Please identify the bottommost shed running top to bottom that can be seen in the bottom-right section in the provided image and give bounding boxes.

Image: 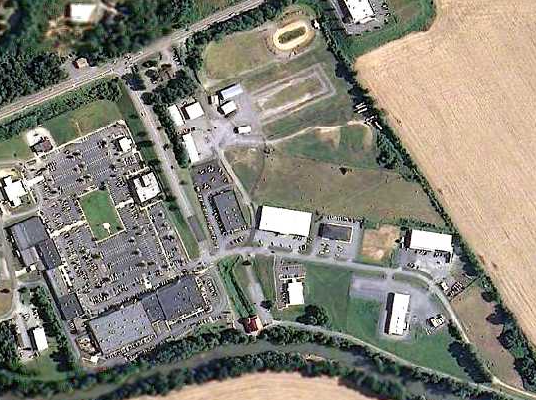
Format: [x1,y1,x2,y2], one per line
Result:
[388,293,410,335]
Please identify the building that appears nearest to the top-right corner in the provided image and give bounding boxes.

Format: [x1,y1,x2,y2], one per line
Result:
[345,0,375,24]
